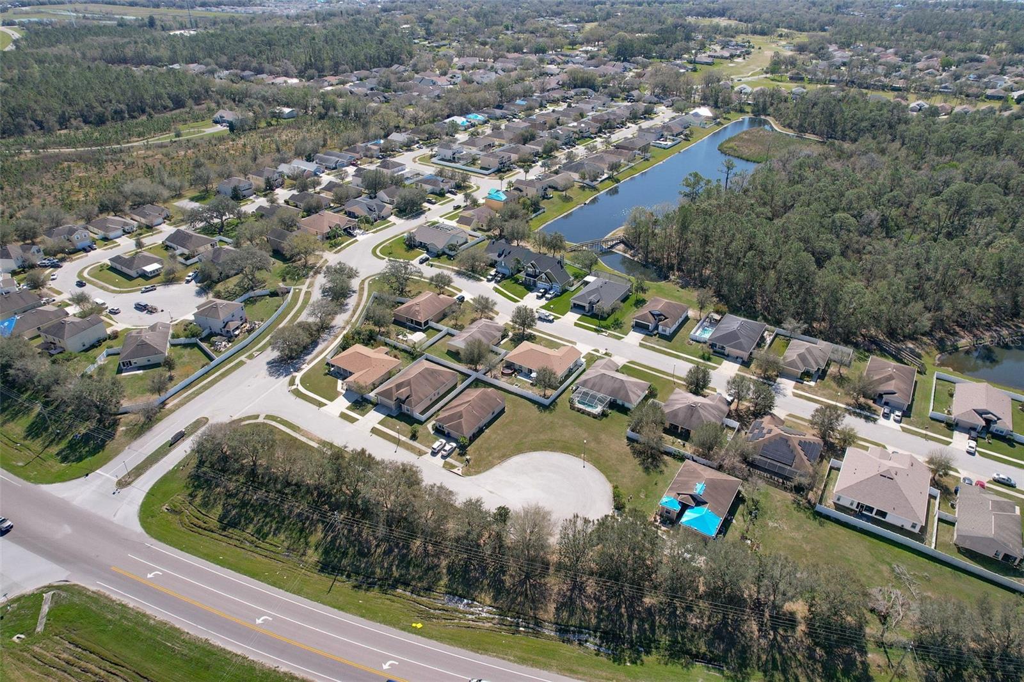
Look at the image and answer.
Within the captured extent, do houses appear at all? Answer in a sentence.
Yes, the photo shows a house.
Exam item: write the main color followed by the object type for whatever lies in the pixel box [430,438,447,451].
white vehicle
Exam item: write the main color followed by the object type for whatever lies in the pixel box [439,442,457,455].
white vehicle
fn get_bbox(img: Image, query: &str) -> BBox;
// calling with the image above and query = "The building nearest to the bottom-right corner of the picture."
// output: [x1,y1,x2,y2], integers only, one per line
[951,482,1024,569]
